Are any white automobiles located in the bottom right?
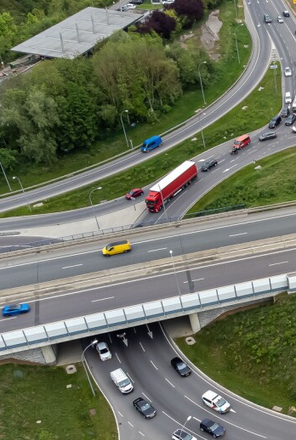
Yes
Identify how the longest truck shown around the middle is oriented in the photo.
on a diagonal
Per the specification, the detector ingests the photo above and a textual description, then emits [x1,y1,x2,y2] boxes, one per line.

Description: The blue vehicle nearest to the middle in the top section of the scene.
[141,136,163,151]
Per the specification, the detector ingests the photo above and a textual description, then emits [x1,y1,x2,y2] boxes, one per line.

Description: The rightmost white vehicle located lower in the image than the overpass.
[202,391,230,413]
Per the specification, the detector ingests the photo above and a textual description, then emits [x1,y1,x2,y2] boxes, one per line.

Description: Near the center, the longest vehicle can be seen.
[146,161,196,208]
